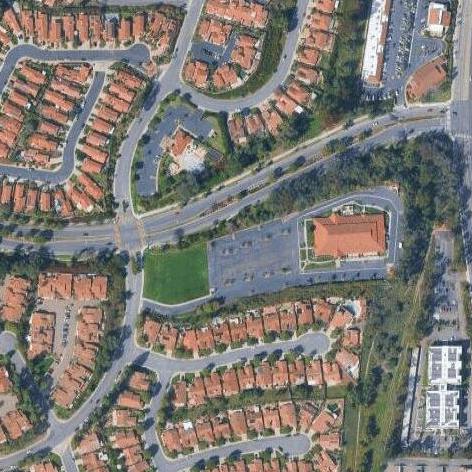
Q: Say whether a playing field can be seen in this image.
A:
Yes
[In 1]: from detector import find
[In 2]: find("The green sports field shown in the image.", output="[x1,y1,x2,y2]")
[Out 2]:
[144,242,209,304]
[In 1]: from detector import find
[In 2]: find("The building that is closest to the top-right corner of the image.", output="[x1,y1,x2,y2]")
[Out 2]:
[430,3,451,30]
